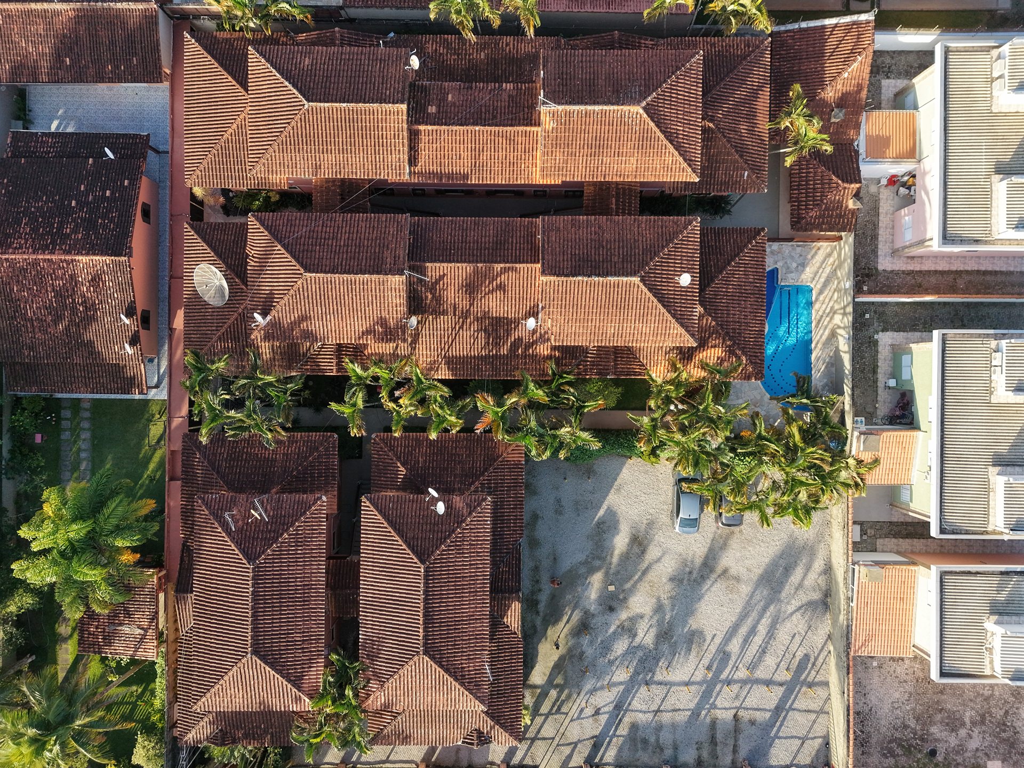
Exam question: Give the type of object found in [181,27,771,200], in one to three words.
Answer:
building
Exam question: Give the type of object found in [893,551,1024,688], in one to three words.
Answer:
house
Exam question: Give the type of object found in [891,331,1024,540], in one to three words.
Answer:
house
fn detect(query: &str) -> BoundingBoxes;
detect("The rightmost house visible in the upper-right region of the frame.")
[891,39,1024,255]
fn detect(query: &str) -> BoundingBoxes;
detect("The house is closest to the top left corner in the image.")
[0,3,166,87]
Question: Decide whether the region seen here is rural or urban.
urban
